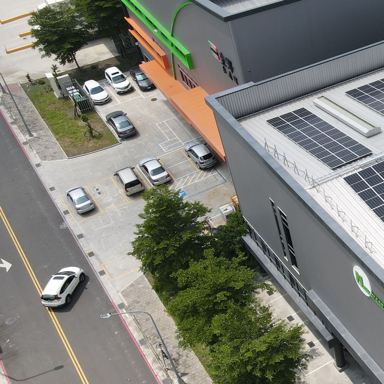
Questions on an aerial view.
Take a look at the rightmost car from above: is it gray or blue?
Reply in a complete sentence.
The color of the rightmost car is gray.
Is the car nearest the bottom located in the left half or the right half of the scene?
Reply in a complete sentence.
It is on the left.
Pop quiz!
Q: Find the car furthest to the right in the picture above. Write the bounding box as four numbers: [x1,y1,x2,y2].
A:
[182,139,215,169]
